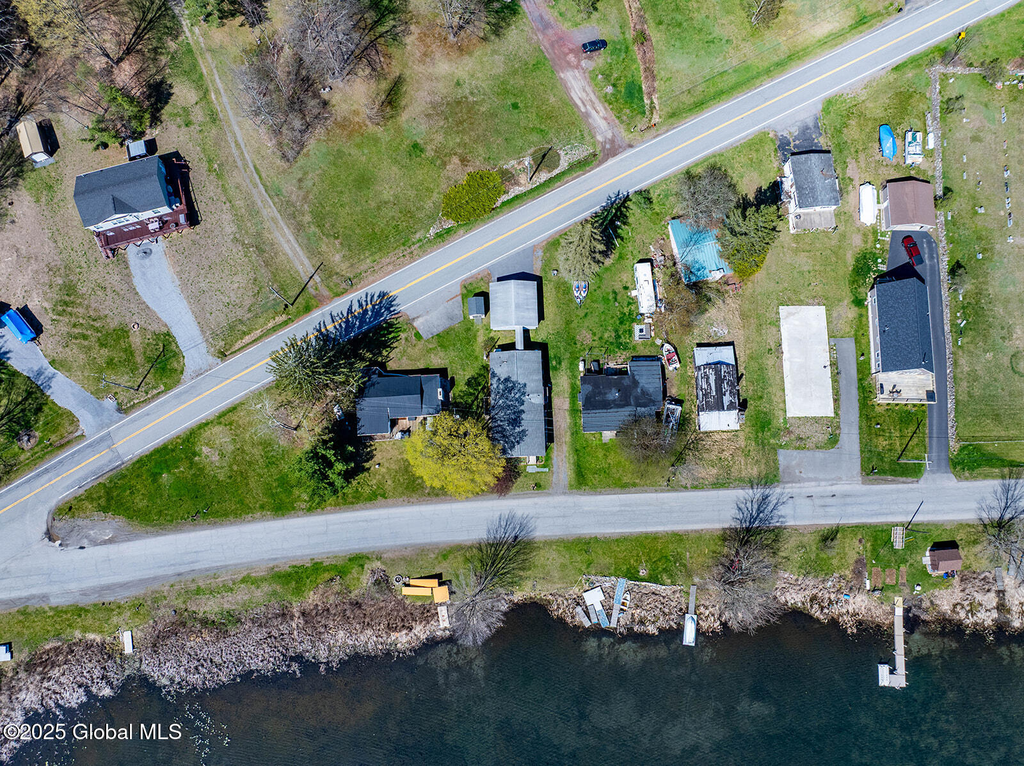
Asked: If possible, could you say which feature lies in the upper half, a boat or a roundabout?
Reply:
boat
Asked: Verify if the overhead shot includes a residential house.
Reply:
Yes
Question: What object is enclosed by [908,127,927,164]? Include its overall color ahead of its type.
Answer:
white boat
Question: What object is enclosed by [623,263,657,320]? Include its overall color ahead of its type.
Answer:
white vehicle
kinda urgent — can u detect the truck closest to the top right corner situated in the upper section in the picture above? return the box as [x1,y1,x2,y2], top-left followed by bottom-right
[904,234,926,265]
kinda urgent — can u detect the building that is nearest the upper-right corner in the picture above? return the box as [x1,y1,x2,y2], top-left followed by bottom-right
[878,180,935,231]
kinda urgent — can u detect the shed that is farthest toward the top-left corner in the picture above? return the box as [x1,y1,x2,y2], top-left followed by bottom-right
[17,121,50,166]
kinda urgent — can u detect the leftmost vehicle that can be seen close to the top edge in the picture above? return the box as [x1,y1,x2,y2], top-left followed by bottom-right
[583,37,607,51]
